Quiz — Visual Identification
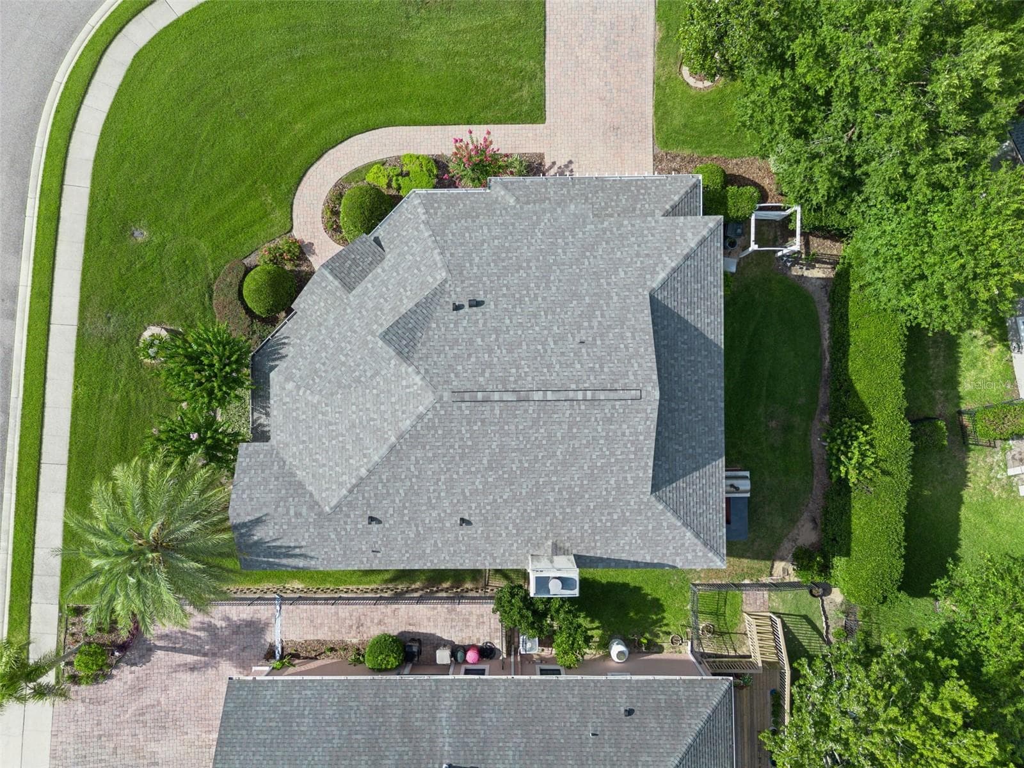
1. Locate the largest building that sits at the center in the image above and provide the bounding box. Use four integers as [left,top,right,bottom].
[229,172,727,597]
